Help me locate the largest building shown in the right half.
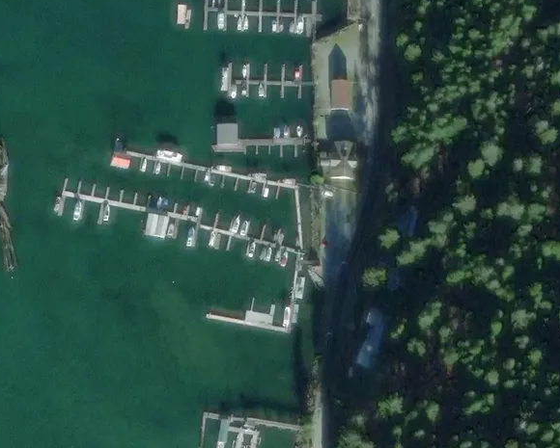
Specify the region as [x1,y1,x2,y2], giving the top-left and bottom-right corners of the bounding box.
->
[320,139,359,180]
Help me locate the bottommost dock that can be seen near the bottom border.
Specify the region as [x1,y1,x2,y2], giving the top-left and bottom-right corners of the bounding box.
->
[200,413,298,448]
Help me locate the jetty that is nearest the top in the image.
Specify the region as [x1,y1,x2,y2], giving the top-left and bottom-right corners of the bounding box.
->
[203,0,321,40]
